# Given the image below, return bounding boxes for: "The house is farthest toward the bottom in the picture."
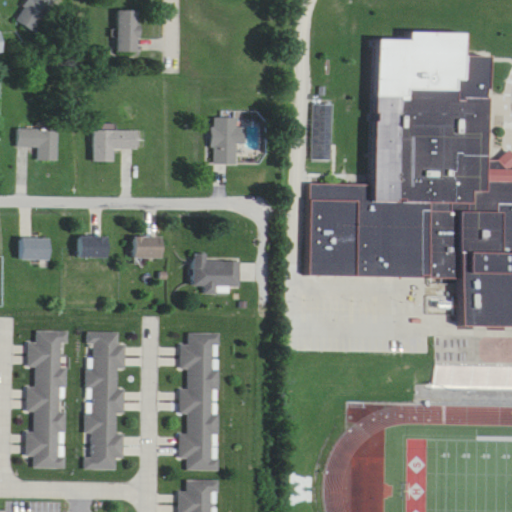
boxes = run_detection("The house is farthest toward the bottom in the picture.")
[176,480,219,512]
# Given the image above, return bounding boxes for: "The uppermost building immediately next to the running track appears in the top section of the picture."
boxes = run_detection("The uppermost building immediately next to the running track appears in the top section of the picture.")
[306,32,512,330]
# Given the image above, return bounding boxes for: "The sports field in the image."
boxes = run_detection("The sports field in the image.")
[384,425,512,512]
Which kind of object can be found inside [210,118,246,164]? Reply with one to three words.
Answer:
house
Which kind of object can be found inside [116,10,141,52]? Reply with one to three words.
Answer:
house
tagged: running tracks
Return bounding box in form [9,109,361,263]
[324,402,512,512]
